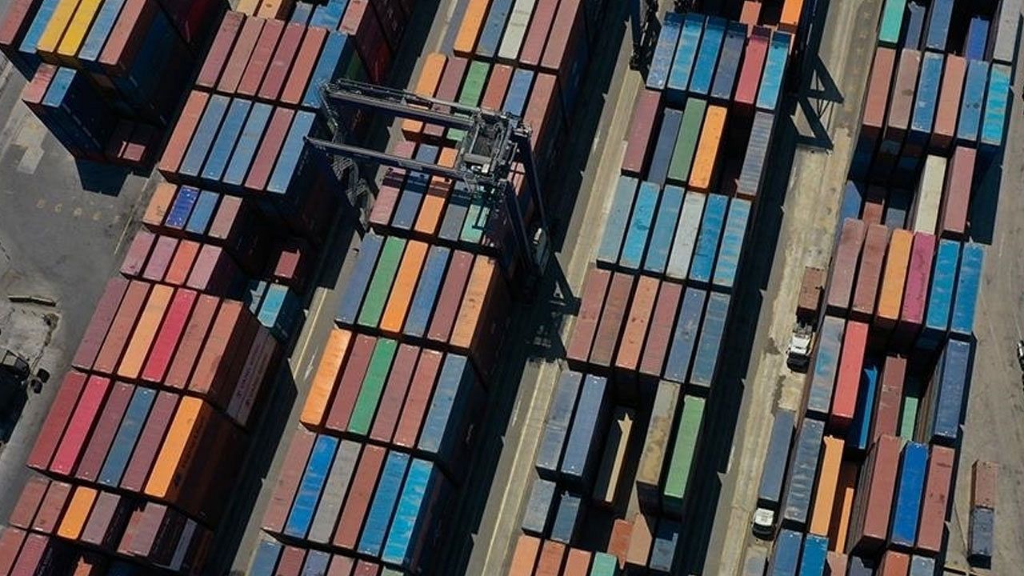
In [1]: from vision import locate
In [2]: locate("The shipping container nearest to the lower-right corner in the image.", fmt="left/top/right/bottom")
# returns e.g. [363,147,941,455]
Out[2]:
[965,507,995,563]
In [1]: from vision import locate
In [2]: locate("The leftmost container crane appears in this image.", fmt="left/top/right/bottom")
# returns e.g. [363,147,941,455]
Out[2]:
[299,75,562,295]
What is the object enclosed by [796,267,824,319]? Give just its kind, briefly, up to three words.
shipping container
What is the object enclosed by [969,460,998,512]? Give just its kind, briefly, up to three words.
shipping container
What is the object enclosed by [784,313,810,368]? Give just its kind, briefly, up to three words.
truck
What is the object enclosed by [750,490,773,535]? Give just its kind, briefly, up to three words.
truck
